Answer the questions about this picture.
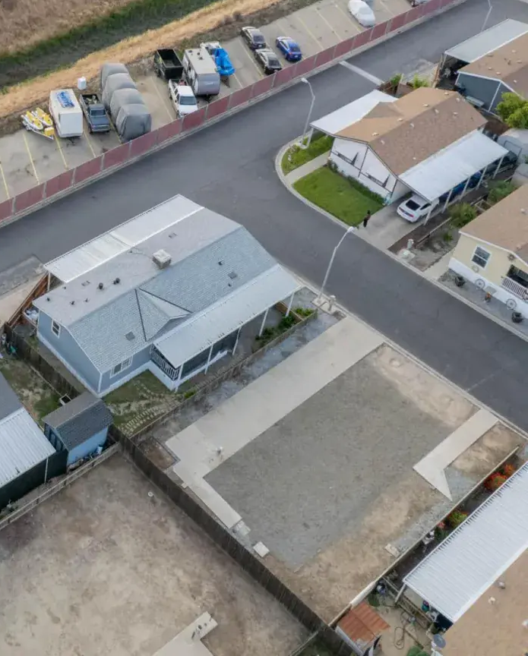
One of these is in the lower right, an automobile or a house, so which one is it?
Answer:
house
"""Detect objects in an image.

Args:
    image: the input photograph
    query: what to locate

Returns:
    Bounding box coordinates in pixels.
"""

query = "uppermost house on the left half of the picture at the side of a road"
[28,193,304,396]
